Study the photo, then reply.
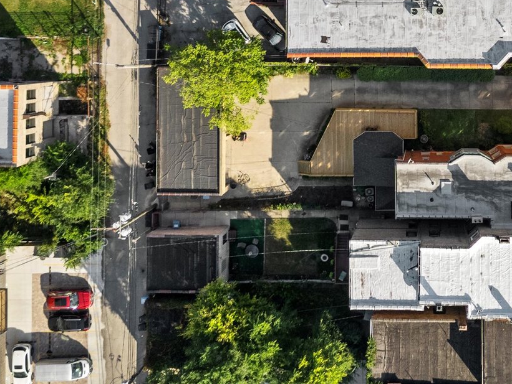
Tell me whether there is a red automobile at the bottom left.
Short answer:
Yes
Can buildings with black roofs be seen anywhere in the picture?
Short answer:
Yes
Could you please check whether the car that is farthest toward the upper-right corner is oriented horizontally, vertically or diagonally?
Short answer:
diagonally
